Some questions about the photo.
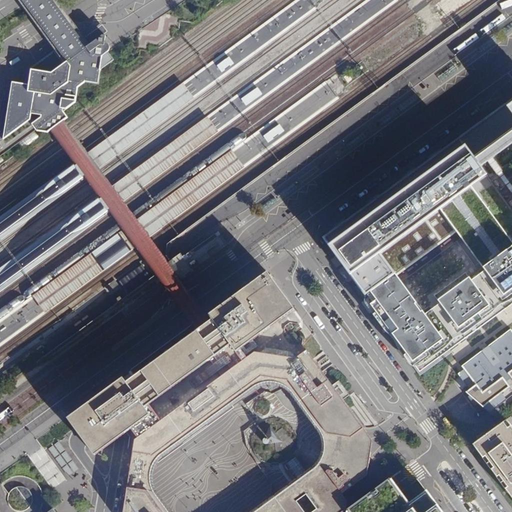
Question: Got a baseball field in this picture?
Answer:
No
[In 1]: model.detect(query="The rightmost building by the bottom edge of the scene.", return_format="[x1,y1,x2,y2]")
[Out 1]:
[471,414,512,499]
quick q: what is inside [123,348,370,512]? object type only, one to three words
building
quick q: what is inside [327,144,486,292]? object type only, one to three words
building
